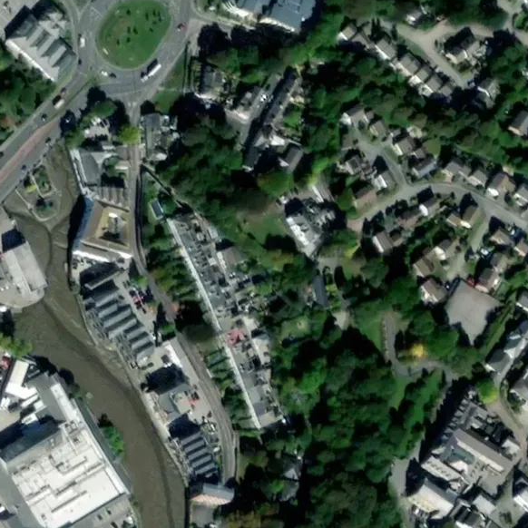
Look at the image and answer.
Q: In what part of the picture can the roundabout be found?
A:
top left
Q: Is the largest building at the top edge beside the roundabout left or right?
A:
left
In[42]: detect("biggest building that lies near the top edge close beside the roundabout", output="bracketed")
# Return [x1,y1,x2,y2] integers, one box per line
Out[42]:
[5,12,75,85]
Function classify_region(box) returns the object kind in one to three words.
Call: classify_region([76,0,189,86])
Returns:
roundabout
